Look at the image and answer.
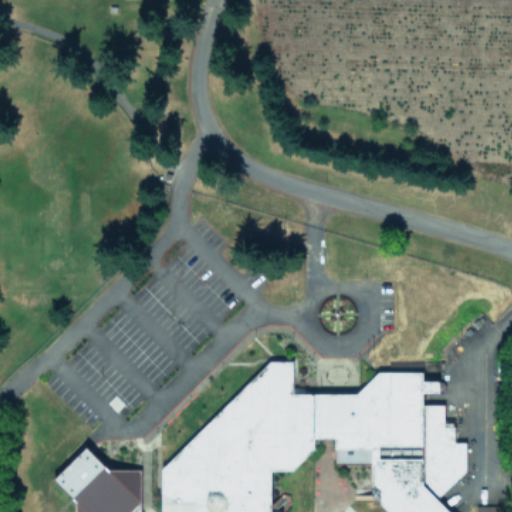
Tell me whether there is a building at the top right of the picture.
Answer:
No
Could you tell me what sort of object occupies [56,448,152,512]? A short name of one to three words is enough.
building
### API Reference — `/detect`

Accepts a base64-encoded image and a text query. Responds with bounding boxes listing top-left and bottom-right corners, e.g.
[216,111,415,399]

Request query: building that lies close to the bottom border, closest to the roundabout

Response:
[162,361,468,512]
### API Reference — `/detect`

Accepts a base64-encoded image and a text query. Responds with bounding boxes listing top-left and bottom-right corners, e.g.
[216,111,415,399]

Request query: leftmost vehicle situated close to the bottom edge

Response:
[446,494,462,507]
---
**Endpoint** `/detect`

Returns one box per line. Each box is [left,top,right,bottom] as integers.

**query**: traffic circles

[310,288,366,342]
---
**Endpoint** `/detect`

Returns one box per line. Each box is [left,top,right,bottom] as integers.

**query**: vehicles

[320,239,326,250]
[382,282,392,288]
[228,298,239,309]
[446,494,462,507]
[320,255,326,266]
[201,270,213,282]
[188,256,198,266]
[481,489,488,505]
[224,292,236,304]
[252,276,266,290]
[384,310,394,314]
[381,288,394,294]
[220,288,230,298]
[385,316,394,321]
